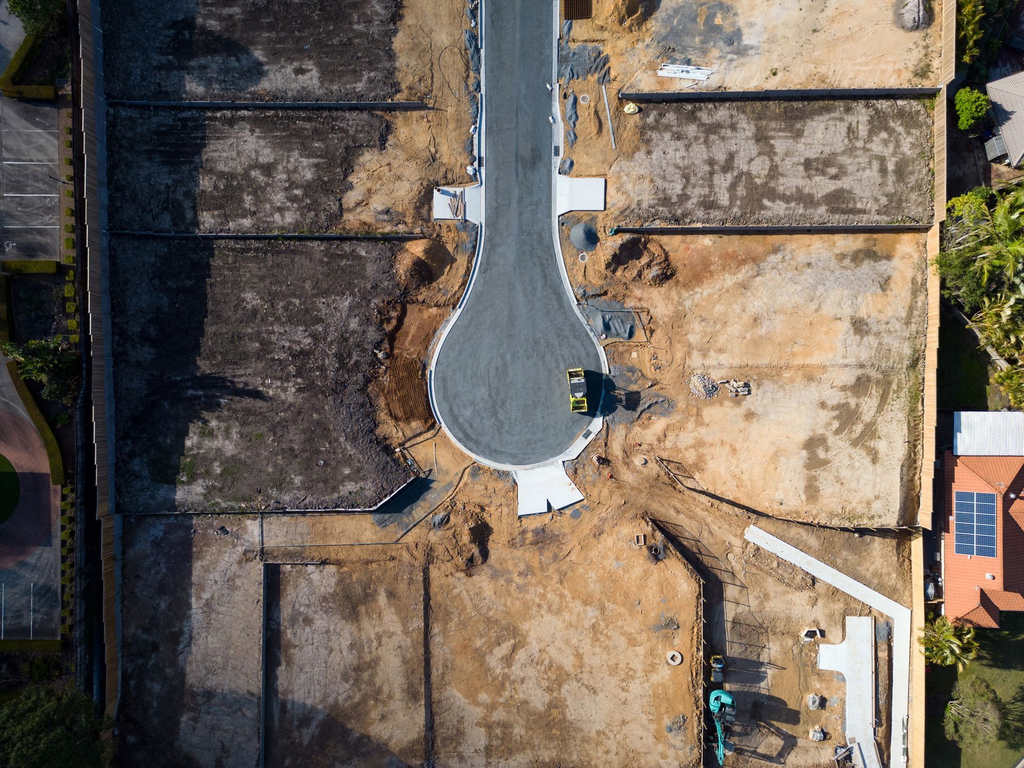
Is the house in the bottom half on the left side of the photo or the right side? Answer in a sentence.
The house in the bottom half is on the right side of the image.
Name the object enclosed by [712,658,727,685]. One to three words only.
work vehicle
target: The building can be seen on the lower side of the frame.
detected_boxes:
[933,411,1024,628]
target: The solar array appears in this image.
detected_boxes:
[955,492,996,556]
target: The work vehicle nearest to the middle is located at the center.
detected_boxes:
[568,368,590,415]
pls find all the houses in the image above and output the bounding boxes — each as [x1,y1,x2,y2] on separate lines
[933,411,1024,628]
[982,70,1024,169]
